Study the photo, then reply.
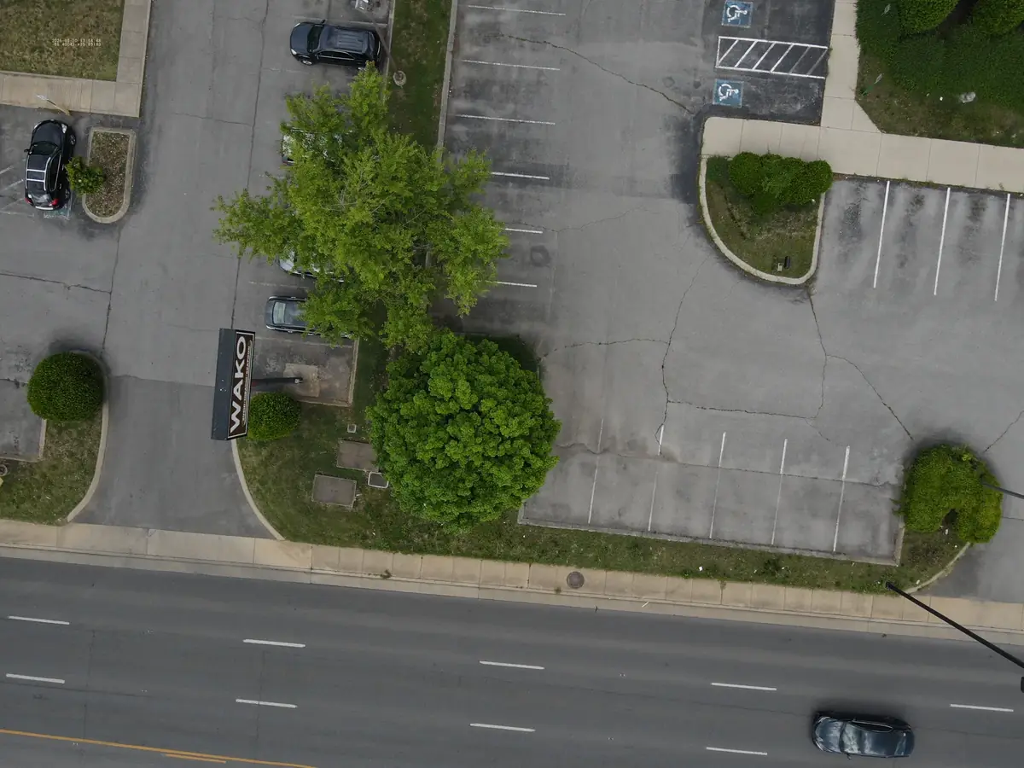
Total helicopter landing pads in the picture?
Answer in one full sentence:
There are no helicopter landing pads in the image.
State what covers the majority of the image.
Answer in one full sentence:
The scene is dominated by paved ground.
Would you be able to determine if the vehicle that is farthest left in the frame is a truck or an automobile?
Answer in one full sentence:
From above, the vehicle that is farthest left can be identified as an automobile.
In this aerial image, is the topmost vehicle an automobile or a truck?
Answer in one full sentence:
The topmost vehicle in the image is an automobile.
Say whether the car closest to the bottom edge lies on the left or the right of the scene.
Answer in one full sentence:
The car closest to the bottom edge sits on the right side.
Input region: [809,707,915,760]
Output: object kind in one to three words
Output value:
car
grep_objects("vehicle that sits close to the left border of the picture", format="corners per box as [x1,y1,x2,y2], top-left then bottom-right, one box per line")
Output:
[22,119,79,213]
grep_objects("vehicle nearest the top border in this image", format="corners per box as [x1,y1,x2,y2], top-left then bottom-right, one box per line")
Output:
[290,19,384,71]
